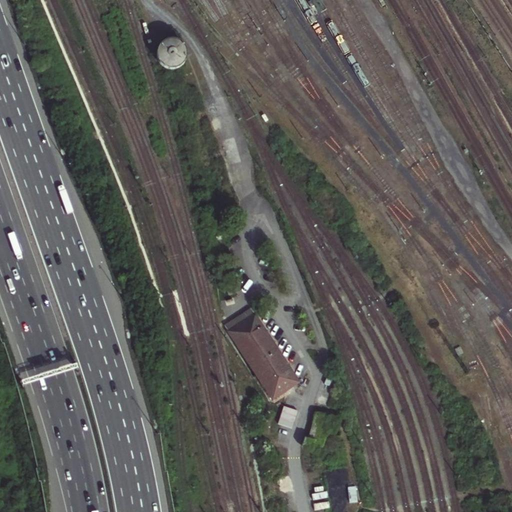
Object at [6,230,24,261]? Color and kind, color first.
white vehicle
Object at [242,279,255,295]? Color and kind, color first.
white vehicle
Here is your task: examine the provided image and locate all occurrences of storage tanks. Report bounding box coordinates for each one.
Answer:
[158,37,186,68]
